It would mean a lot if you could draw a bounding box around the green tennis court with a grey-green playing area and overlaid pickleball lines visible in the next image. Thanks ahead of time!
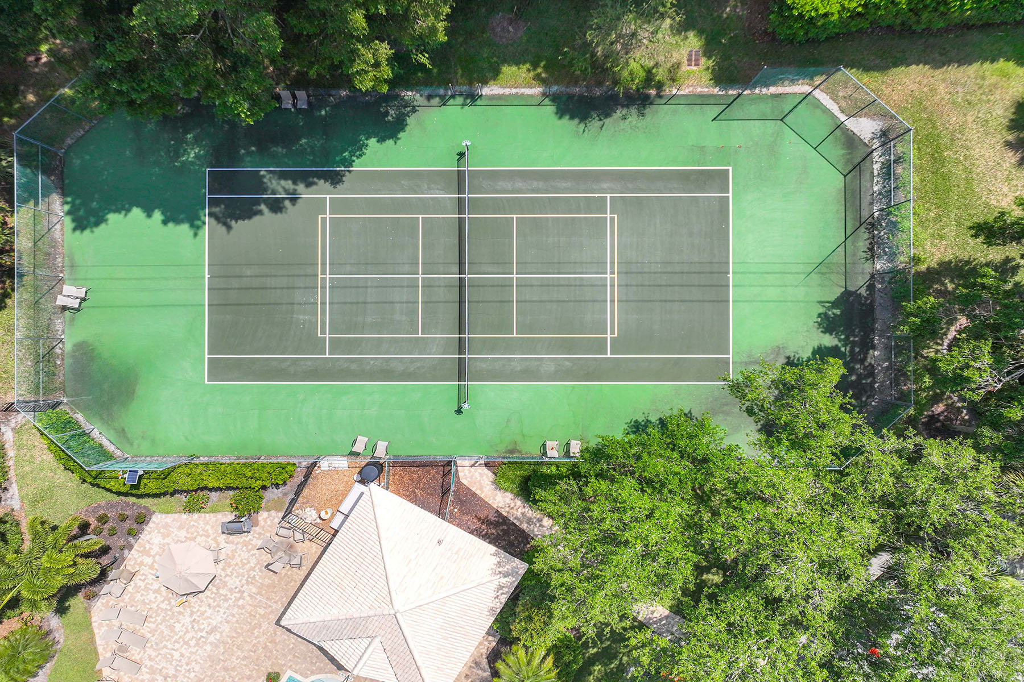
[64,93,875,457]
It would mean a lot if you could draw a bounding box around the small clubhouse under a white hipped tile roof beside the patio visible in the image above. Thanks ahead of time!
[275,483,529,682]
